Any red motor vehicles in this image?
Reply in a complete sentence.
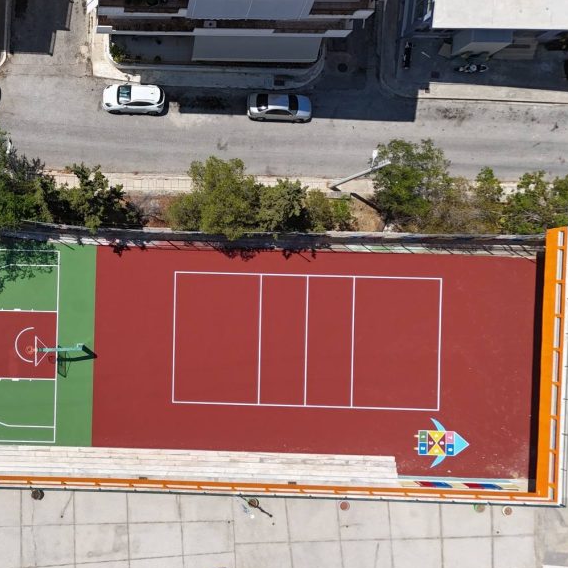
No, there is no red motor vehicle in the image.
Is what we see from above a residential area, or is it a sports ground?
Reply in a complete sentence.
The picture captures a sports ground.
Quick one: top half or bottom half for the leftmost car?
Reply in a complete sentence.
The leftmost car is in the top half of the image.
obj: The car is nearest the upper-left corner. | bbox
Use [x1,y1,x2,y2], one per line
[101,80,165,117]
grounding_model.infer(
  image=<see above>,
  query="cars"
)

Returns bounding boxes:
[101,80,165,117]
[245,91,311,125]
